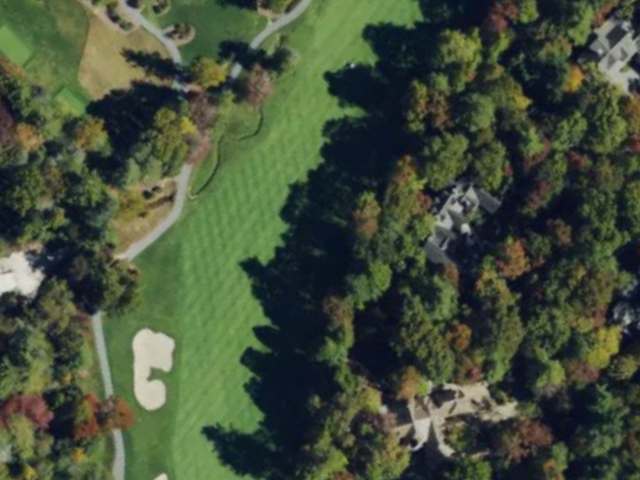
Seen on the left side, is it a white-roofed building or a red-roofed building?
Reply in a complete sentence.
You can see a white-roofed building on the left side.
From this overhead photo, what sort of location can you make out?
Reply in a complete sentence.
The picture captures a golf course.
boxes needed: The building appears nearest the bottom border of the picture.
[387,379,520,451]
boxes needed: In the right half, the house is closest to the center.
[422,182,502,267]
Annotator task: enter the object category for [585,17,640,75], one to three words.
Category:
house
